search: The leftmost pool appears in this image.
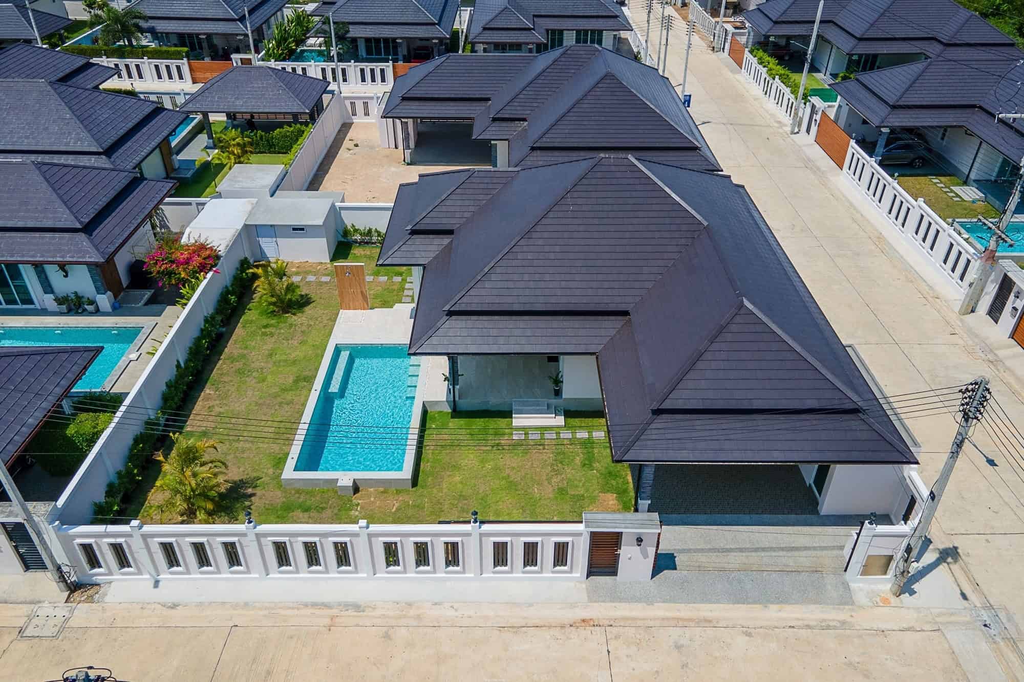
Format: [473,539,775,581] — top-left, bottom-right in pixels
[0,322,157,377]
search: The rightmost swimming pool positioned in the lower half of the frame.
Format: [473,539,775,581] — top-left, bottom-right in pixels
[277,340,431,495]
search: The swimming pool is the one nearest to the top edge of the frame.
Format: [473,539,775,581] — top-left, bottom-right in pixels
[290,48,346,62]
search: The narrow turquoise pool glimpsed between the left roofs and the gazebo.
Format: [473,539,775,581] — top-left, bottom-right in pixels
[170,119,199,151]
